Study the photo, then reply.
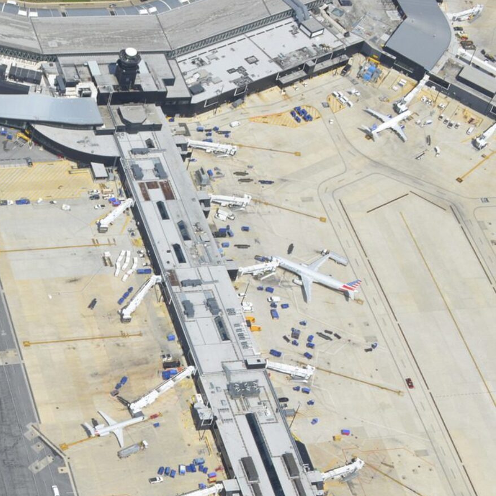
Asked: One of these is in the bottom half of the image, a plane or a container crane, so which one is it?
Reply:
plane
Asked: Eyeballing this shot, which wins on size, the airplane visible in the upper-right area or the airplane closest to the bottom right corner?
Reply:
the airplane closest to the bottom right corner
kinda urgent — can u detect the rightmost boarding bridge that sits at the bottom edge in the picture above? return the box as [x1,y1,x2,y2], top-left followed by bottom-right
[323,457,366,484]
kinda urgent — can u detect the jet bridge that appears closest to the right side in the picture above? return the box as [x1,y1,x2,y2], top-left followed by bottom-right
[475,123,496,151]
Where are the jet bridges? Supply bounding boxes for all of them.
[266,361,319,382]
[99,198,132,235]
[122,275,161,325]
[187,140,239,158]
[190,483,224,496]
[132,366,194,419]
[323,457,366,484]
[233,259,281,281]
[475,123,496,151]
[397,76,430,116]
[447,5,482,24]
[209,195,254,212]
